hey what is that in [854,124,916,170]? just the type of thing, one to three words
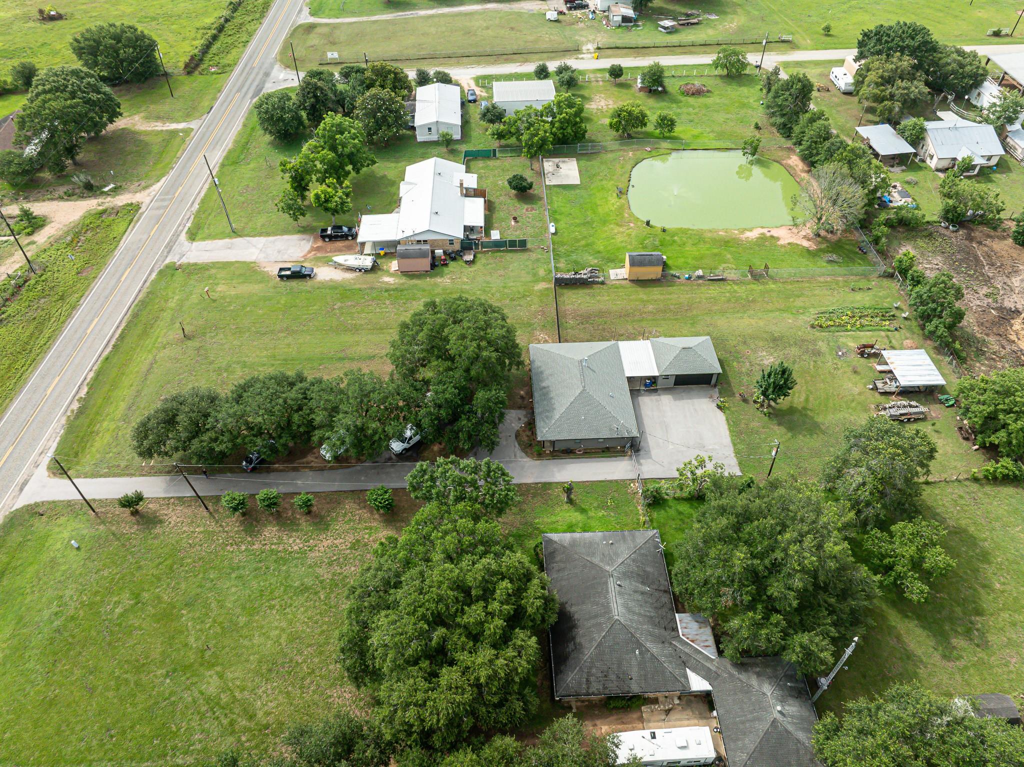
shed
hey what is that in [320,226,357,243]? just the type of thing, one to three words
vehicle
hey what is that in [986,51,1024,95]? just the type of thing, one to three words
barn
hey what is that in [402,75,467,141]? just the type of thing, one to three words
house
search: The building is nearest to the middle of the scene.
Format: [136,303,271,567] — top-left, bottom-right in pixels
[529,341,639,451]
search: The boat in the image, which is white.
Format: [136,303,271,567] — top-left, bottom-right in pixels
[331,254,378,269]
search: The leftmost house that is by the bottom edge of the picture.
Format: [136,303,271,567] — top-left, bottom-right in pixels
[541,528,826,767]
